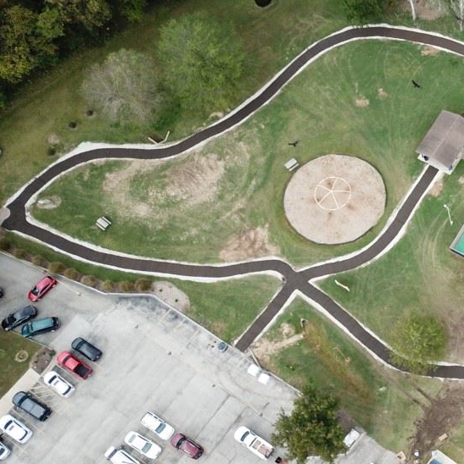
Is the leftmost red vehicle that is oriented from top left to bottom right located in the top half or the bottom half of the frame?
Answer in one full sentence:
You can find the leftmost red vehicle that is oriented from top left to bottom right in the bottom half.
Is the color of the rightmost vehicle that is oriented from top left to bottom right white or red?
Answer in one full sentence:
The rightmost vehicle that is oriented from top left to bottom right looks white in the image.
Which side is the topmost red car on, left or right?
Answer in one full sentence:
You can find the topmost red car on the left side of the picture.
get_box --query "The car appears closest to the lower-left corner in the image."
[0,443,13,462]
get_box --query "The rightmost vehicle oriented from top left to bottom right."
[233,428,274,461]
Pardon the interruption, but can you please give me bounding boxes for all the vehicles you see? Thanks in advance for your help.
[1,304,41,334]
[29,273,58,305]
[102,447,139,464]
[56,352,92,381]
[14,393,51,422]
[0,443,13,462]
[140,412,175,441]
[172,433,203,460]
[233,428,274,461]
[44,373,75,398]
[0,416,33,444]
[23,317,61,339]
[71,338,104,363]
[126,431,161,460]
